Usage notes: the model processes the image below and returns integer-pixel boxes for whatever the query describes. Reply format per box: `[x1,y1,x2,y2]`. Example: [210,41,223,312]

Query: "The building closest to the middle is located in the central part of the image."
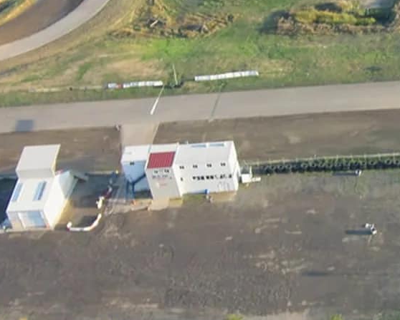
[120,141,245,203]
